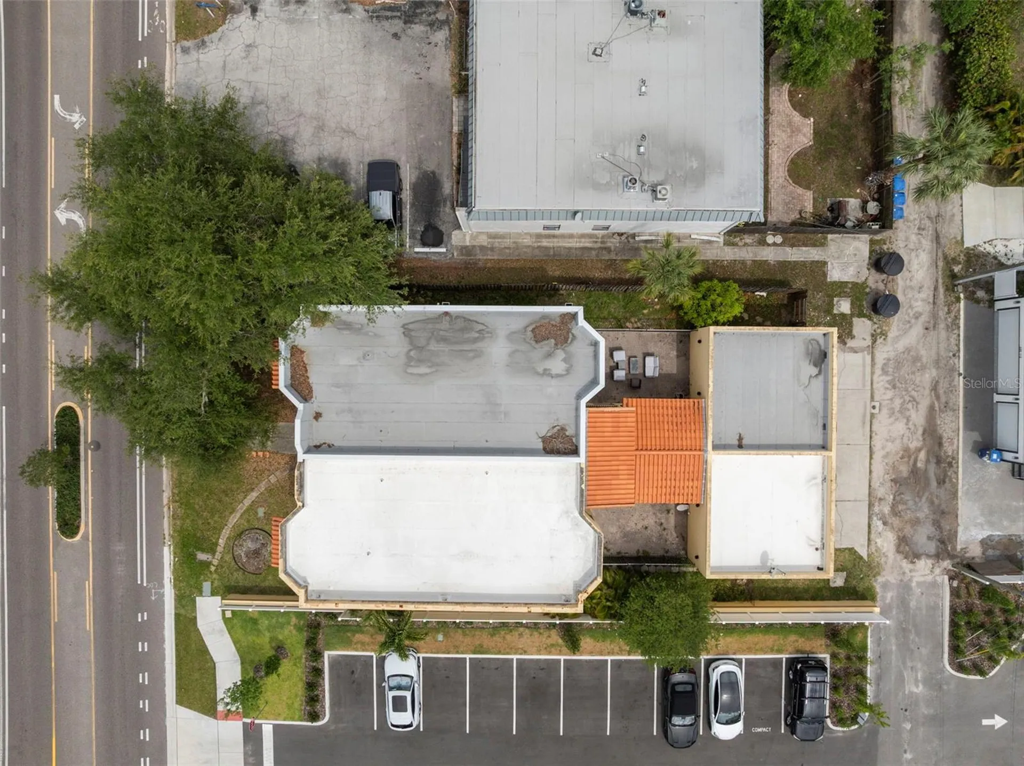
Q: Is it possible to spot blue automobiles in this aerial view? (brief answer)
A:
No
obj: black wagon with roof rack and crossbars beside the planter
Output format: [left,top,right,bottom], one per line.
[784,648,834,739]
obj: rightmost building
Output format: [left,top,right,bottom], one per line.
[688,327,837,579]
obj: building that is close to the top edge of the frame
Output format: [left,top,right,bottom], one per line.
[456,0,764,233]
